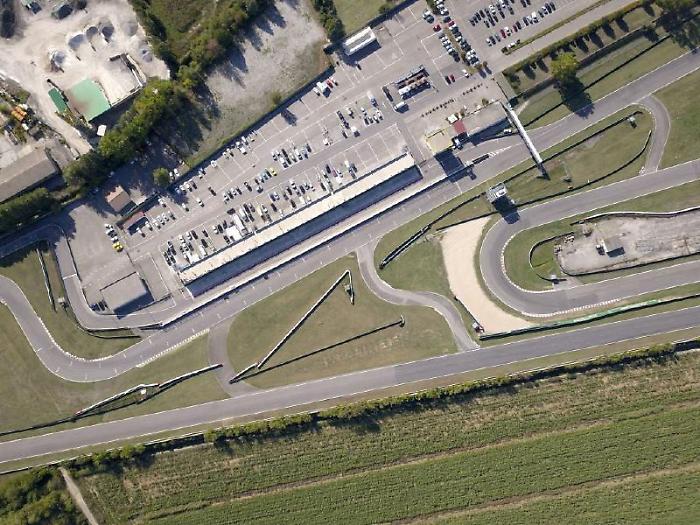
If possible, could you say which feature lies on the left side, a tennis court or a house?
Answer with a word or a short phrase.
house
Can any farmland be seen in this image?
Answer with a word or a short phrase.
Yes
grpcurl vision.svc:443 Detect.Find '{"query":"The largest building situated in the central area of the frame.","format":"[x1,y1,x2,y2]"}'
[181,152,414,284]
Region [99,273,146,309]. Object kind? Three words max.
building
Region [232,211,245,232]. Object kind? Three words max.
vehicle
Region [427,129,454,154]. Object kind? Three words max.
building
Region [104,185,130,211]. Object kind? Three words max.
house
